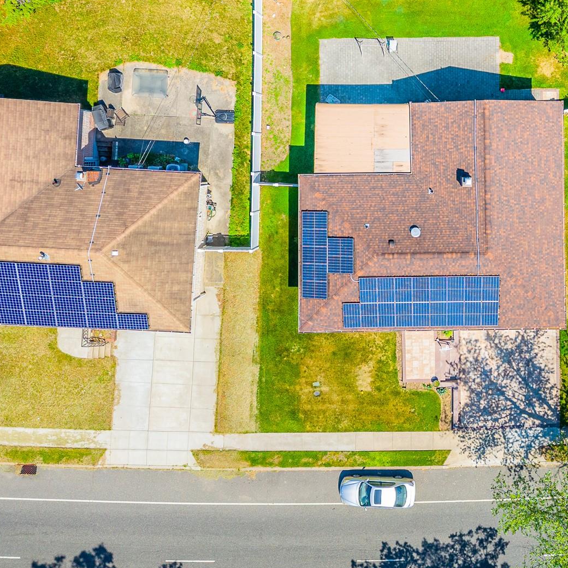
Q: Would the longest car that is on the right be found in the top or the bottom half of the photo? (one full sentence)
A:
The bottom half of the photo is where the longest car that is on the right is.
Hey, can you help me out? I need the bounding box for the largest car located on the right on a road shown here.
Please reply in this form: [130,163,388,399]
[340,471,416,511]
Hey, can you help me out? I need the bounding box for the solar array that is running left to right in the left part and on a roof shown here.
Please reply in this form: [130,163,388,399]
[0,262,150,329]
